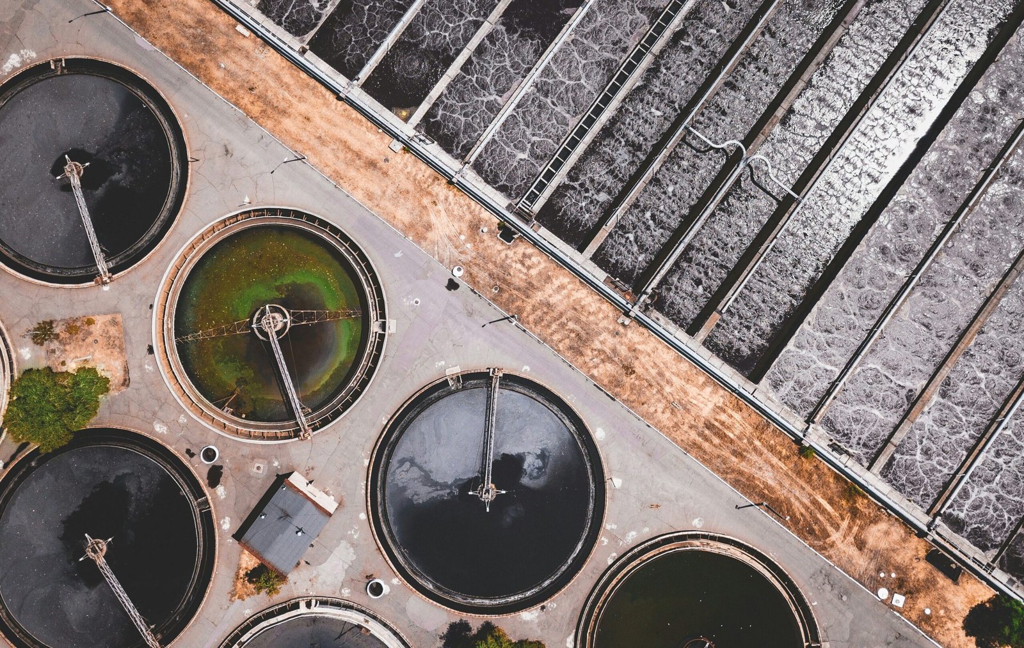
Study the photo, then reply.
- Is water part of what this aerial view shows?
Yes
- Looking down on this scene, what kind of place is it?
industrial area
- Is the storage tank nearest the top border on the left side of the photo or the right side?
left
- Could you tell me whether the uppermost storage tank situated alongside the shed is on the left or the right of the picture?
left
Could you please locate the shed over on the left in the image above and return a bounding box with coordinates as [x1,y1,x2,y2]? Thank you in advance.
[238,468,341,577]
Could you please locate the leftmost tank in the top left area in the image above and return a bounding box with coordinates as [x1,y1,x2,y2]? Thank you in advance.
[0,54,192,288]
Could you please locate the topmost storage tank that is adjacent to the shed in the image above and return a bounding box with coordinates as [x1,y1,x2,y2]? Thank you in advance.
[151,207,398,444]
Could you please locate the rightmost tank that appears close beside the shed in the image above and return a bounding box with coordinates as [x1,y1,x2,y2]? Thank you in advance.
[362,368,610,614]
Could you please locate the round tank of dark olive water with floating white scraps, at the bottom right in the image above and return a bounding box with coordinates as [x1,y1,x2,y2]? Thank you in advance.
[576,531,822,648]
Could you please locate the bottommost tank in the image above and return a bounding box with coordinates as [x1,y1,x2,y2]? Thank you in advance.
[219,596,413,648]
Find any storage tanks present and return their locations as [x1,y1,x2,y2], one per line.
[219,596,413,648]
[362,368,610,614]
[151,207,398,444]
[0,54,192,288]
[576,531,822,648]
[0,435,217,648]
